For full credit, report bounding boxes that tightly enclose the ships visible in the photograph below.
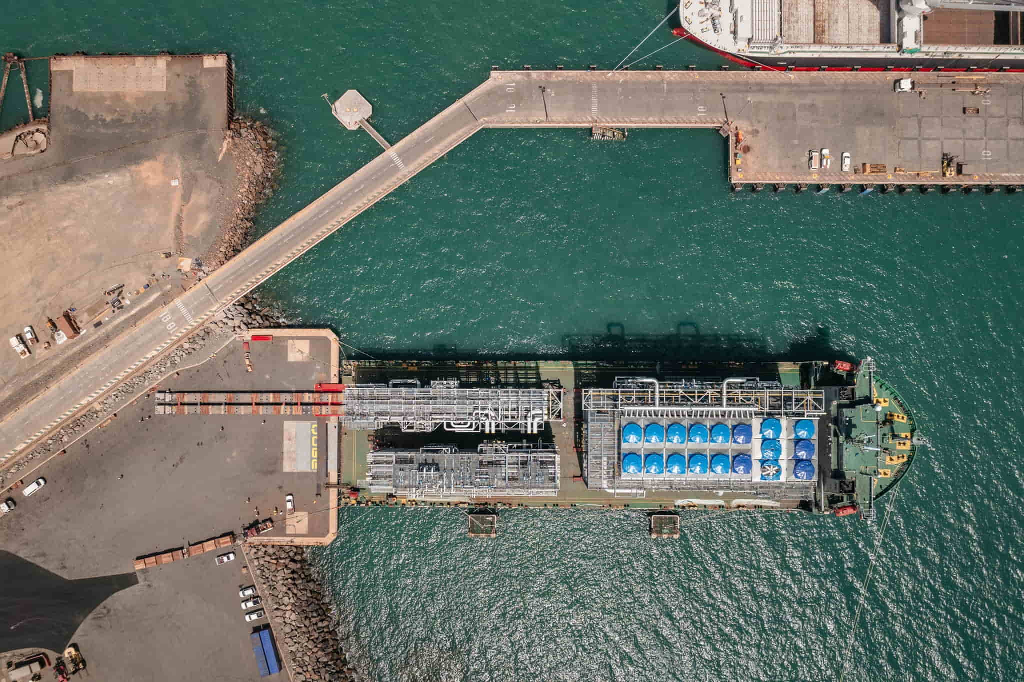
[672,0,1024,68]
[342,356,930,524]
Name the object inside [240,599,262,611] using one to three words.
vehicle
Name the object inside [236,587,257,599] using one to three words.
vehicle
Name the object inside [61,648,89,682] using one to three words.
work vehicle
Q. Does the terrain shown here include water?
Yes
